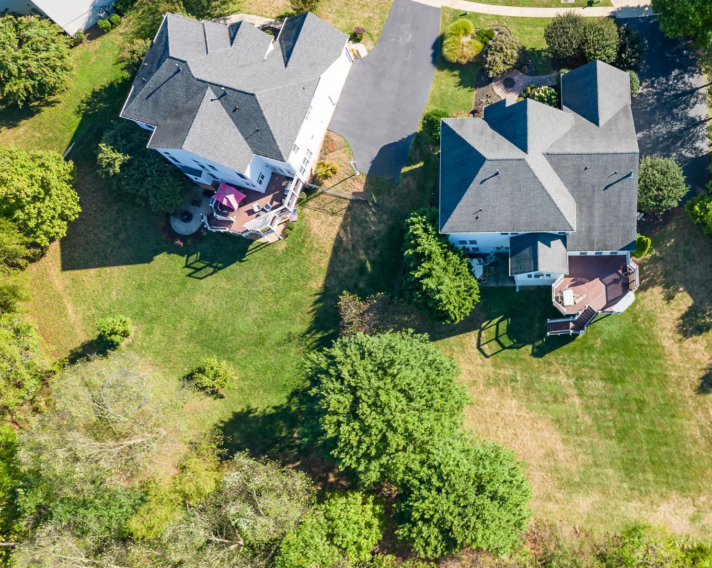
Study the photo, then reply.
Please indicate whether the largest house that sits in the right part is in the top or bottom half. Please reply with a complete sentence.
It is in the top half that the largest house that sits in the right part appears.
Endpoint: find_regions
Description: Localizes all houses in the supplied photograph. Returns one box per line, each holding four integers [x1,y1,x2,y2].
[119,12,352,192]
[439,60,639,281]
[32,0,113,35]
